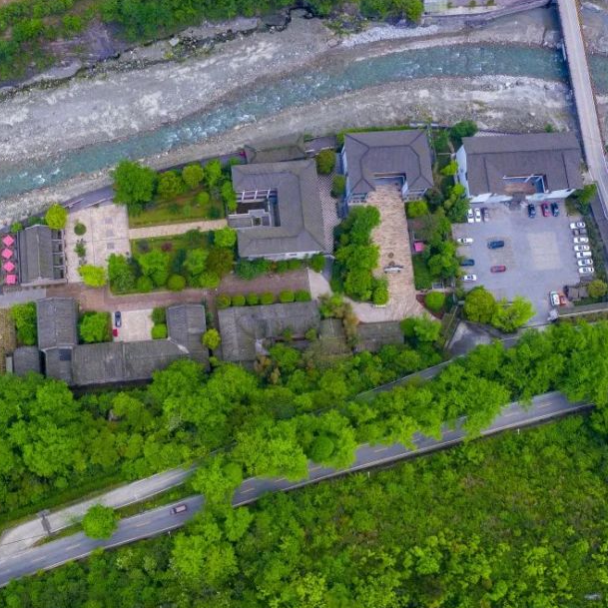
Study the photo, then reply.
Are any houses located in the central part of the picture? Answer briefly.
Yes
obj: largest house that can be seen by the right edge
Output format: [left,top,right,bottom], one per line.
[453,132,585,208]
